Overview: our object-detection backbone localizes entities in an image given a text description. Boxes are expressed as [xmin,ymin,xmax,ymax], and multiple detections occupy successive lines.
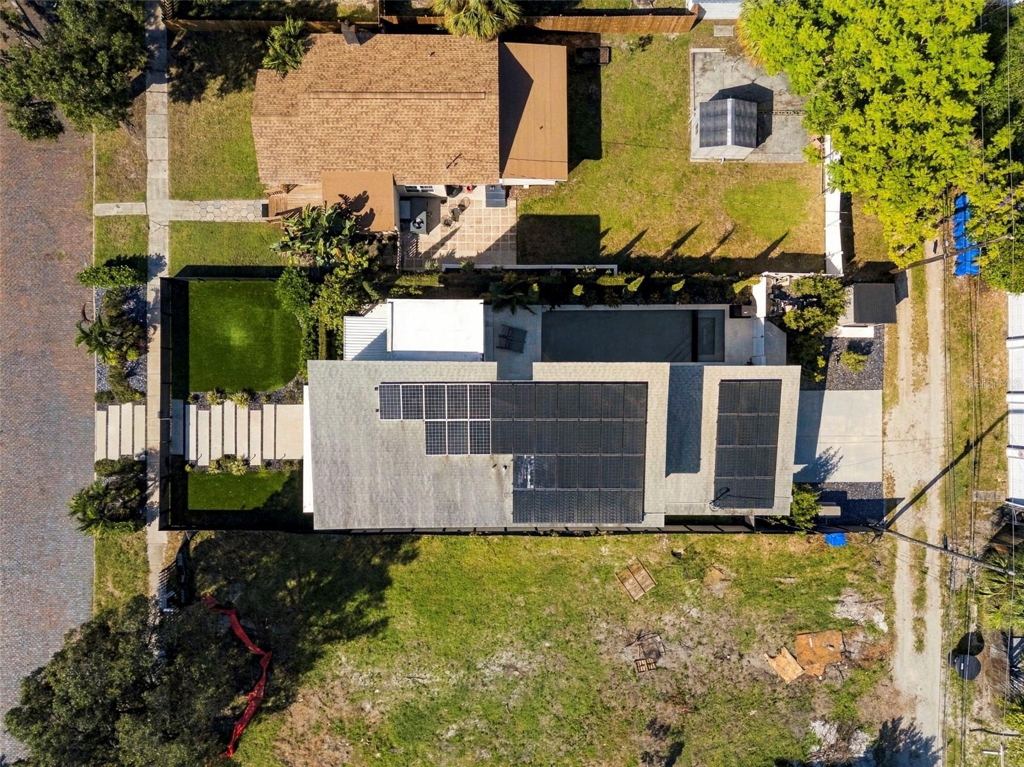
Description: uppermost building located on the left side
[250,20,568,241]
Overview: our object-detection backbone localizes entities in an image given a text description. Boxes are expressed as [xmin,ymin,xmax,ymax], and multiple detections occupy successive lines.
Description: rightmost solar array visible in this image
[713,380,783,510]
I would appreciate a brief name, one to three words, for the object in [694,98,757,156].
shed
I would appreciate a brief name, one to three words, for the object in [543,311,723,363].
swimming pool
